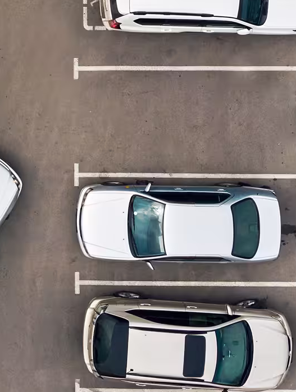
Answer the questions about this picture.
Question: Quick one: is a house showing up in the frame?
No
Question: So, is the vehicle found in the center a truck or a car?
car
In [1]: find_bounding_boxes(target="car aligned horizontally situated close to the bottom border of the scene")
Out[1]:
[84,291,292,392]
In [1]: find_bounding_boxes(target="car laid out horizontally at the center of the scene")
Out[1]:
[77,178,280,274]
